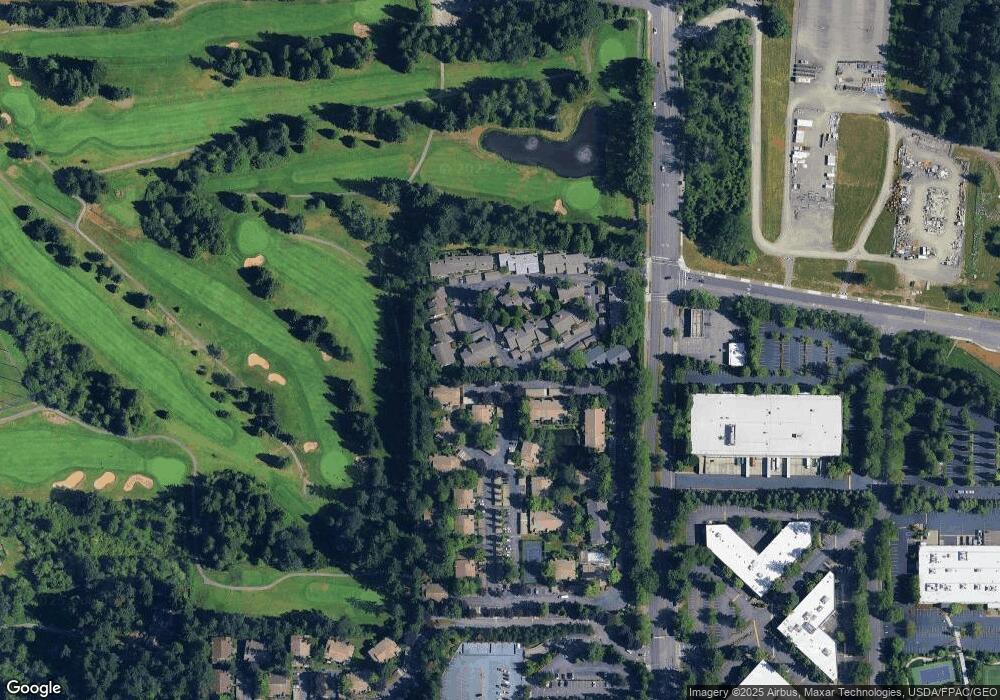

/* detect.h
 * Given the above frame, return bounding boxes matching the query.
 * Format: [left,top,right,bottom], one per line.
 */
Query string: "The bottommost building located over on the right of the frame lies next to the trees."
[729,660,807,700]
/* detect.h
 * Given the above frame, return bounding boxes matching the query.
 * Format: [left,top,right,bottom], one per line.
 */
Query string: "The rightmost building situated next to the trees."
[919,546,1000,610]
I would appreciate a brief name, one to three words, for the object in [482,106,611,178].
pond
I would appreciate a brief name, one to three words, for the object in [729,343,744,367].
building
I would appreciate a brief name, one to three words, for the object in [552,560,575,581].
house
